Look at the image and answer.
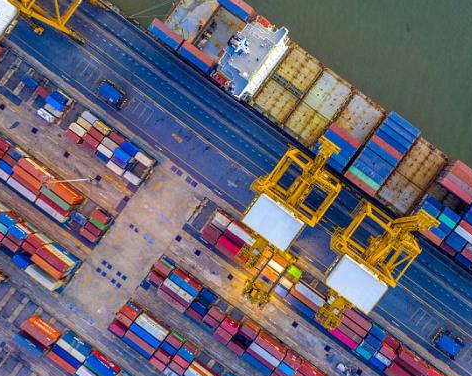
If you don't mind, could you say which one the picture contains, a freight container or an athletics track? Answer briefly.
freight container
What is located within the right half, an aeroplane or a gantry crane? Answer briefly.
gantry crane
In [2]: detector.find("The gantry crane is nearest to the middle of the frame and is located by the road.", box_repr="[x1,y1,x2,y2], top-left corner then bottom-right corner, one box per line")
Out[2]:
[223,134,346,279]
